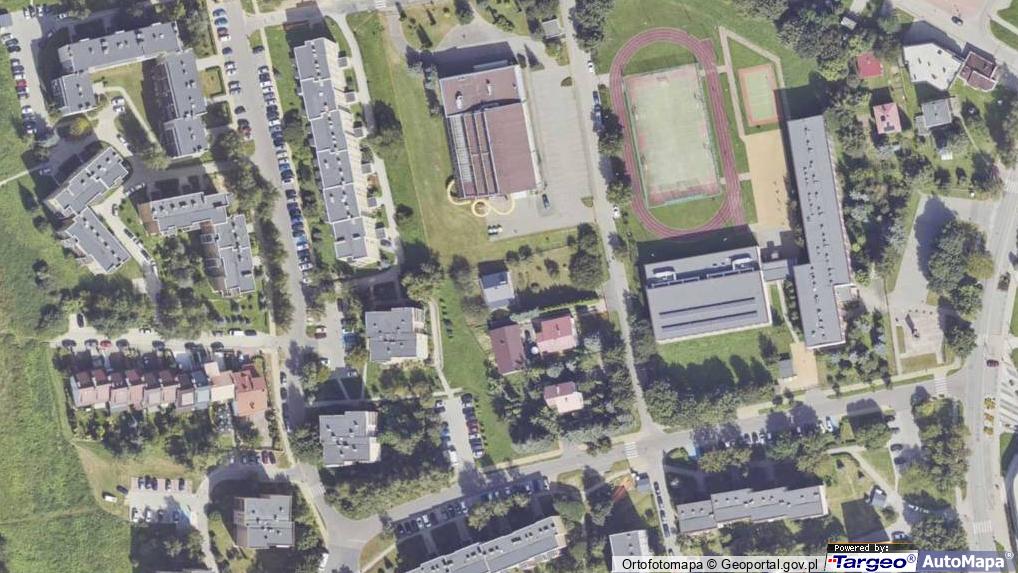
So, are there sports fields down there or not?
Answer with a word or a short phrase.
Yes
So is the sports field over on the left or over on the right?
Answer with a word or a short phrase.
right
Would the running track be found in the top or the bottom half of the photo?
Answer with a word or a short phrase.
top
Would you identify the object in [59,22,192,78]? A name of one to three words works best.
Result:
building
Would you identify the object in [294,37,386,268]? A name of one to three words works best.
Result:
building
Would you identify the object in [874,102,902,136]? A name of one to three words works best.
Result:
house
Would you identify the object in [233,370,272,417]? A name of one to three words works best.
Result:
house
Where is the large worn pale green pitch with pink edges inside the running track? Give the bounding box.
[623,65,721,205]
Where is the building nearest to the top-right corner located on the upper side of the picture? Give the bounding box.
[959,52,1001,96]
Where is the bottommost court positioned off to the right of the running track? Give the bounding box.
[744,129,791,226]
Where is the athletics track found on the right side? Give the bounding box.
[610,27,745,241]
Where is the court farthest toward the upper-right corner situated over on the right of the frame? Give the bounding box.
[738,64,778,125]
